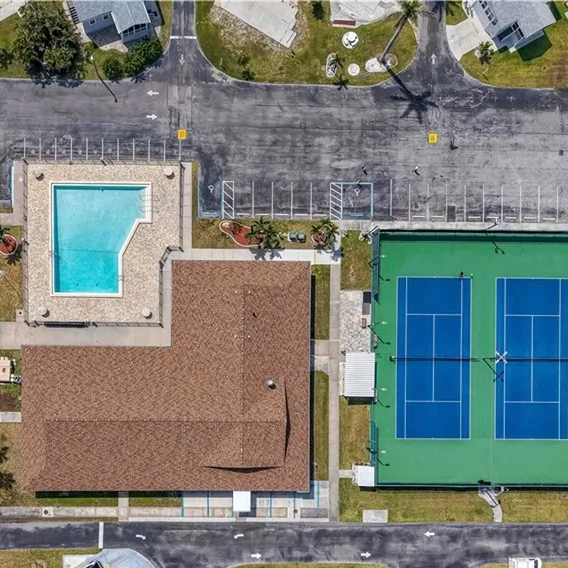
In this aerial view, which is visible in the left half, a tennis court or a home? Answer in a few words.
home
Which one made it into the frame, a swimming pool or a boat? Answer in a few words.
swimming pool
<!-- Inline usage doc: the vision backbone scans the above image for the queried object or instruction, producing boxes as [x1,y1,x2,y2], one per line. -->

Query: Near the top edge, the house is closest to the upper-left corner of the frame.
[68,0,111,32]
